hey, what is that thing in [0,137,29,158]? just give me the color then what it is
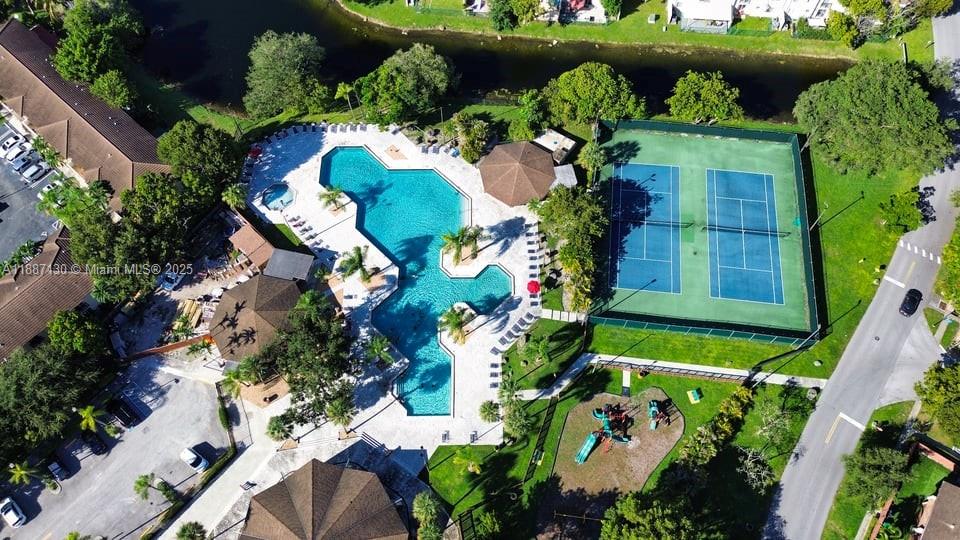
white car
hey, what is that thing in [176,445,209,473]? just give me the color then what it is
white car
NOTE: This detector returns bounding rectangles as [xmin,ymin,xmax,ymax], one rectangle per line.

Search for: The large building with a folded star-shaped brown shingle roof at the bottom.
[234,458,414,540]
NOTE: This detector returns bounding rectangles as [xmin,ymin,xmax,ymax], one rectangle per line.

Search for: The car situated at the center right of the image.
[901,287,925,317]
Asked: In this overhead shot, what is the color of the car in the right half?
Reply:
black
